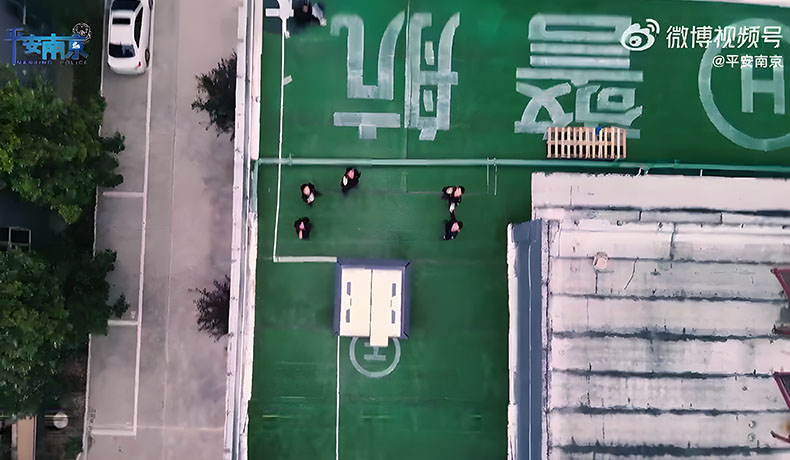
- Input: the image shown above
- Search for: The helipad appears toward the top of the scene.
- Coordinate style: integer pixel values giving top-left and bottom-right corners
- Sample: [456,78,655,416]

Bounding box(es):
[700,19,790,149]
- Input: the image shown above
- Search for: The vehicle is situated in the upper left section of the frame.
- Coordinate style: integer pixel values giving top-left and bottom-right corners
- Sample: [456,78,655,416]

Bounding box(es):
[102,0,153,76]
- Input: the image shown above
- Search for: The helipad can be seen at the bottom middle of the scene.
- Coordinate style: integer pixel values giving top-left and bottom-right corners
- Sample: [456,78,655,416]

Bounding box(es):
[349,337,400,377]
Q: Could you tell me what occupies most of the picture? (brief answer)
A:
buildings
